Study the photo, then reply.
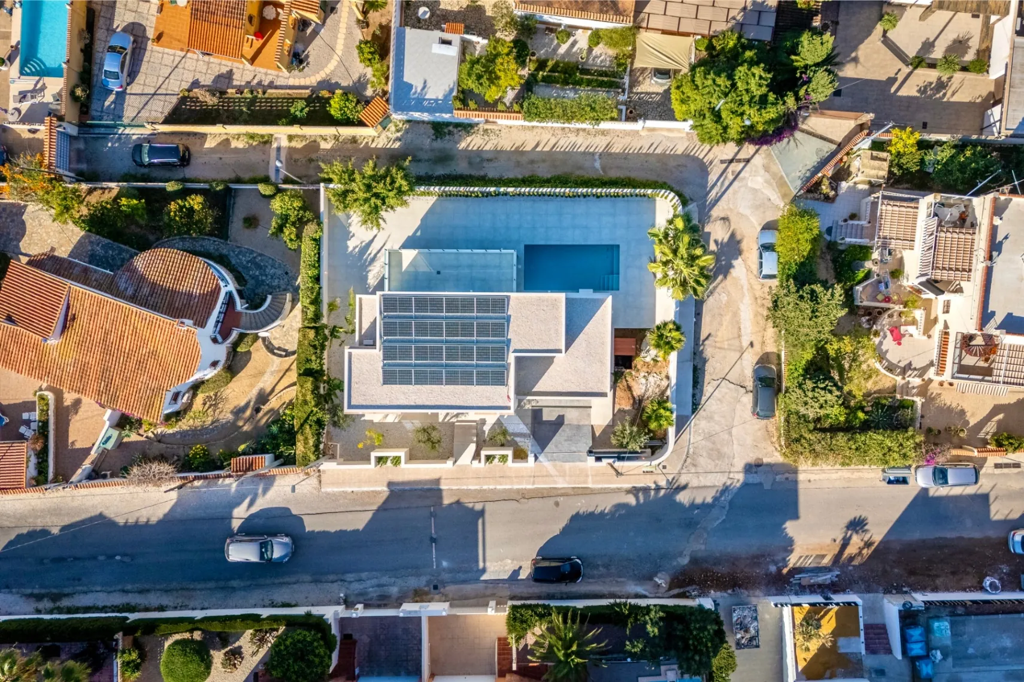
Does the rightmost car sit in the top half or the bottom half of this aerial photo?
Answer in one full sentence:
Seen from above, the rightmost car lies in the bottom half of the view.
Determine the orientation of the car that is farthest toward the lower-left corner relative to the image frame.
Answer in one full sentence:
In this picture, the car that is farthest toward the lower-left corner lies from side to side.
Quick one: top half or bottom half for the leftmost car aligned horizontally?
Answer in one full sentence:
Seen from above, the leftmost car aligned horizontally lies in the top half of the view.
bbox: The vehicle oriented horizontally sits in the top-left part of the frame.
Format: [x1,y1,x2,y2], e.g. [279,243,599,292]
[131,139,193,169]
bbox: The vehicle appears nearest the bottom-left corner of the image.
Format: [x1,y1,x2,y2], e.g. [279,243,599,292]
[226,533,294,564]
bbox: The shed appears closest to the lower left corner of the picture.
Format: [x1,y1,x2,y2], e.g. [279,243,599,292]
[0,437,51,489]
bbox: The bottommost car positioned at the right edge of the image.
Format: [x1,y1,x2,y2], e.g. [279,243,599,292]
[1004,527,1024,554]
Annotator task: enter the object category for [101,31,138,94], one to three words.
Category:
car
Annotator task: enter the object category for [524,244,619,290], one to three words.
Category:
swimming pool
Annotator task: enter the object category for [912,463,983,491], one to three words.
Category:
car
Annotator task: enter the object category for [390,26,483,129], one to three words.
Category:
house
